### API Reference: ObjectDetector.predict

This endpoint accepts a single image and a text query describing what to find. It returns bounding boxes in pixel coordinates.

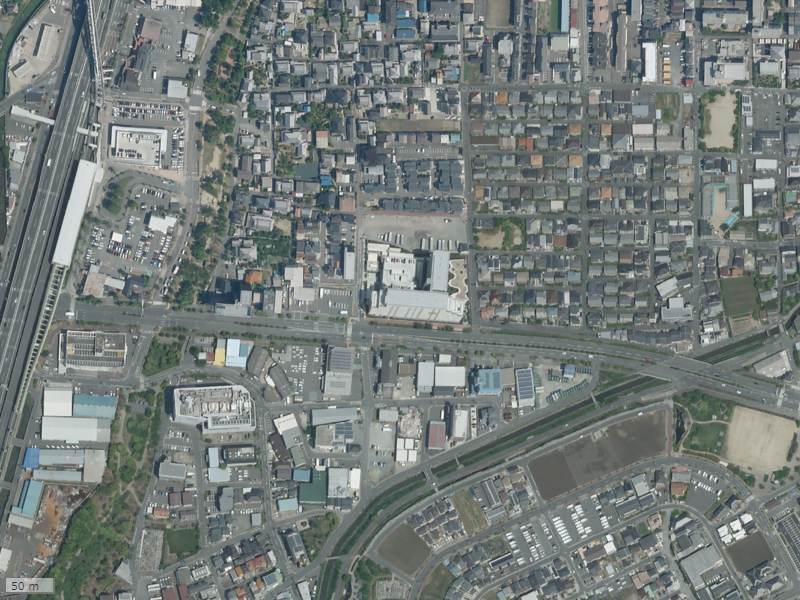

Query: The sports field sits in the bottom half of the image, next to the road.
[724,406,796,471]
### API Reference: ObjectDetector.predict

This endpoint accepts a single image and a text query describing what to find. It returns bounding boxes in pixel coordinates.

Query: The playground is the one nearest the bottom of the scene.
[711,188,733,247]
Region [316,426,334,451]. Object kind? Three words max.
building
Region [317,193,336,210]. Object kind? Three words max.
house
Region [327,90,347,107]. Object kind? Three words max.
house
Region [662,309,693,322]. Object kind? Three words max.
building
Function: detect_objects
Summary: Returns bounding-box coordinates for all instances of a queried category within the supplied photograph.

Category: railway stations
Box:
[50,159,103,267]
